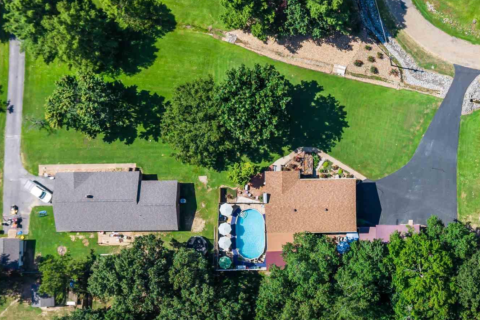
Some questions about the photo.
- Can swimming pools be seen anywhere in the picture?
Yes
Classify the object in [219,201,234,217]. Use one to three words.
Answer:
umbrella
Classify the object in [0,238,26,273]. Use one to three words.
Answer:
shed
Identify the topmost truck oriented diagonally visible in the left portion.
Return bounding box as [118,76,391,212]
[22,177,53,205]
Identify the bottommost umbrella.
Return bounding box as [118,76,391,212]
[218,255,233,269]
